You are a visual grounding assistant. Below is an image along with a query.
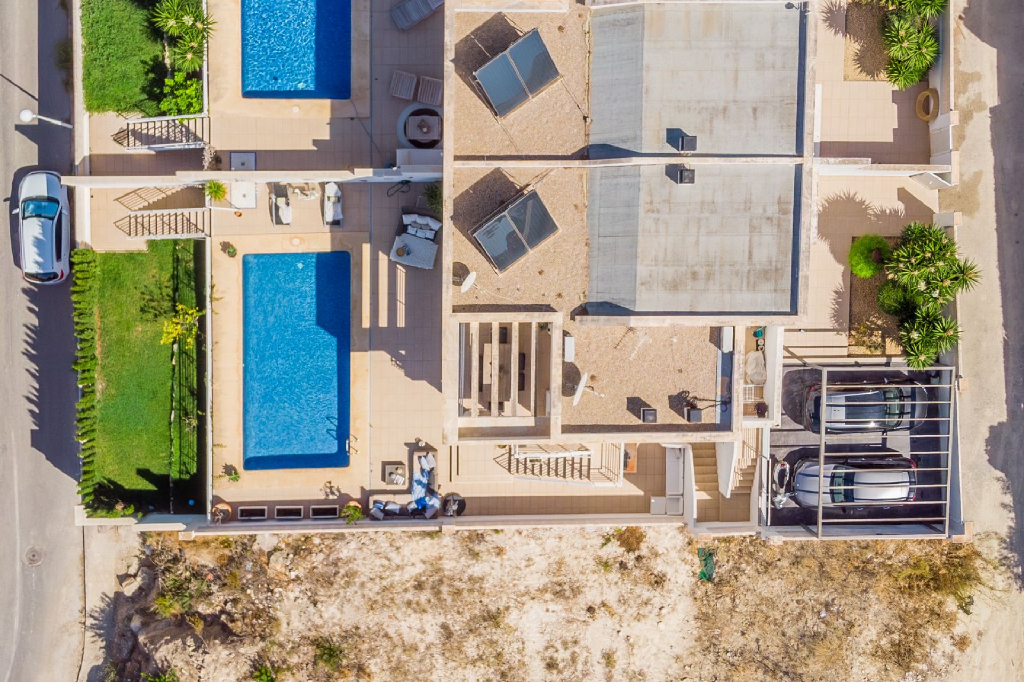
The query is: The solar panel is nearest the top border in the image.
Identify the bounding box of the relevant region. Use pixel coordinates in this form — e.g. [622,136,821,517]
[472,25,560,119]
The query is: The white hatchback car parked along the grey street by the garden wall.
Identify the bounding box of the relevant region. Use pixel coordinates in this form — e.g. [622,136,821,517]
[11,172,74,283]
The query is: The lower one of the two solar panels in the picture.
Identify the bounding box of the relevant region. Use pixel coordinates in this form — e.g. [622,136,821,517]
[472,186,558,273]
